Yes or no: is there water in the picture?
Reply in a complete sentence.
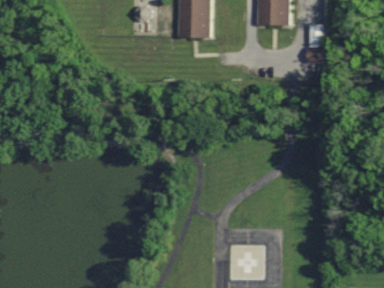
Yes, there is water in the image.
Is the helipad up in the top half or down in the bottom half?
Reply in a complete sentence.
Seen from above, the helipad lies in the bottom half of the view.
